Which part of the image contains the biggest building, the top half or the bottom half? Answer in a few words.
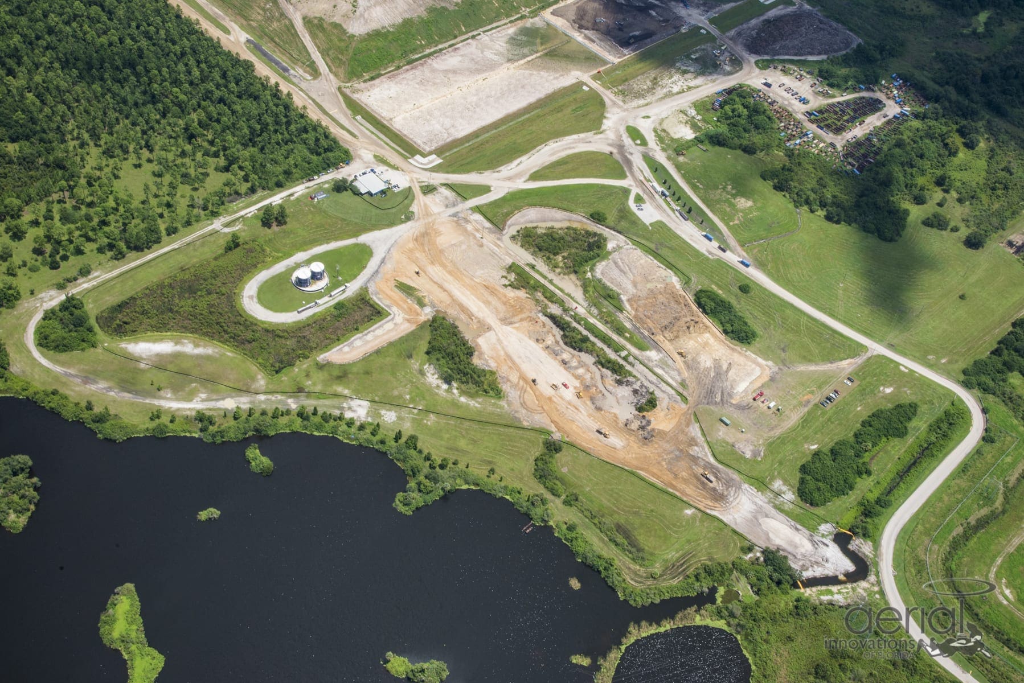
top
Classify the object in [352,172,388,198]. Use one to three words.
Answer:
building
